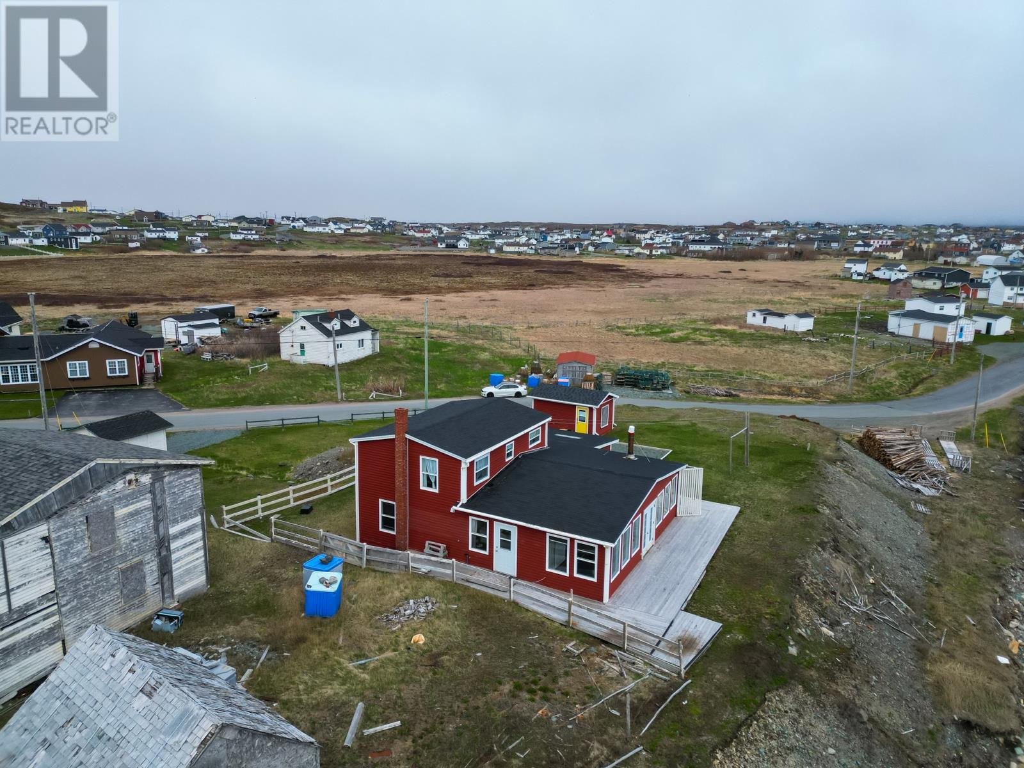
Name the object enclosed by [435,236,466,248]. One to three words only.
house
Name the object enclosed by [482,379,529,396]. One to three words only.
car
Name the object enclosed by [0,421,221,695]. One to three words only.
barn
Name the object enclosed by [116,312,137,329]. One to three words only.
work vehicle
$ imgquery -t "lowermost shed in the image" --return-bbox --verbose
[0,617,324,768]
